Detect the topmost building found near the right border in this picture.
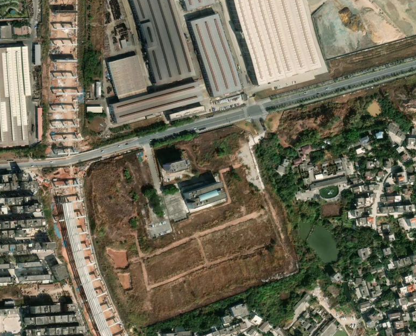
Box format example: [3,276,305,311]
[386,122,405,146]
